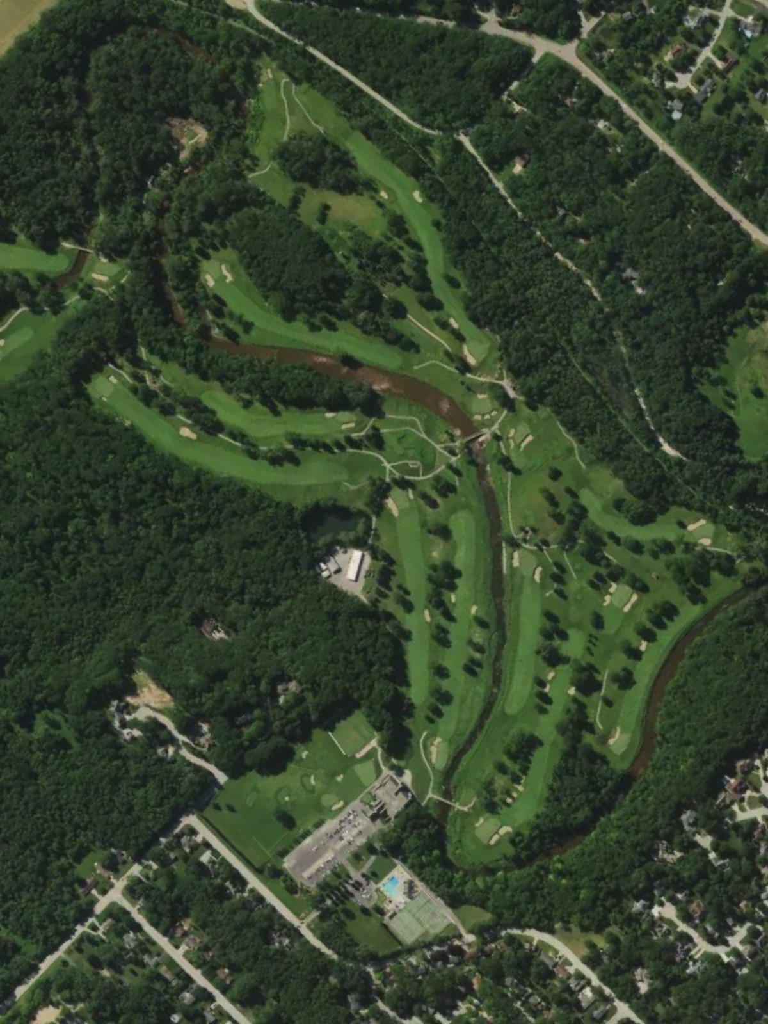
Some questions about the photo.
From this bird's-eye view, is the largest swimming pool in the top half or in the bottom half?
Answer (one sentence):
You can find the largest swimming pool in the bottom half.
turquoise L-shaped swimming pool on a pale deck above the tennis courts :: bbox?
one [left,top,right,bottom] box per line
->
[378,865,420,911]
